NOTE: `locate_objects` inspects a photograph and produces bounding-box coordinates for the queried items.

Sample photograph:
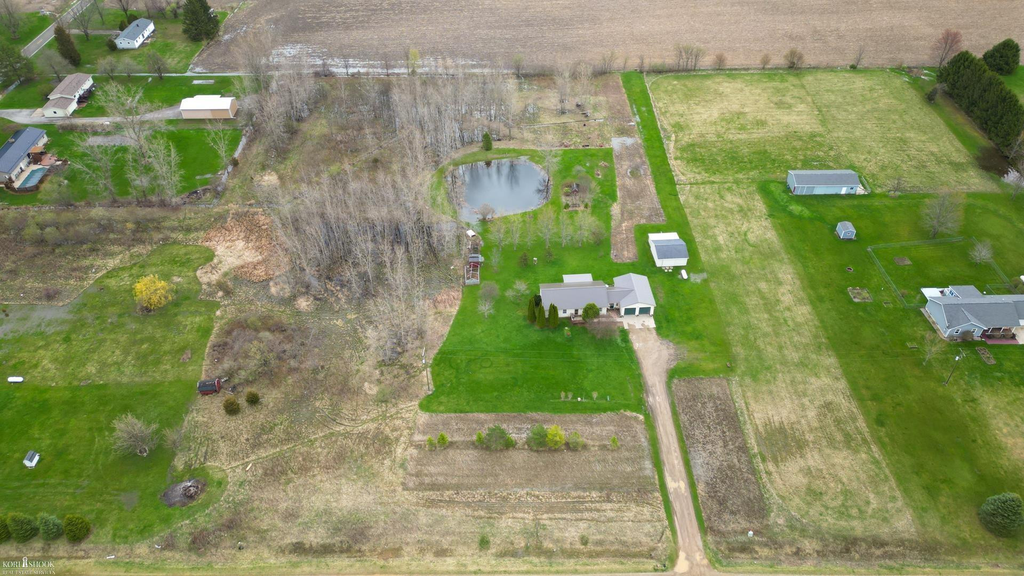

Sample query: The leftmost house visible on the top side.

[0,126,51,182]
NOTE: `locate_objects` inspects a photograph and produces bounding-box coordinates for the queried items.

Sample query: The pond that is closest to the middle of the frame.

[450,157,549,222]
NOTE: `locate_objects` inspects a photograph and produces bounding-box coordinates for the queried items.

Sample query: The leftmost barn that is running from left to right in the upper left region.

[179,94,238,119]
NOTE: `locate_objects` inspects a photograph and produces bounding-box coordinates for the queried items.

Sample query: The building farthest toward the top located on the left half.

[116,17,156,49]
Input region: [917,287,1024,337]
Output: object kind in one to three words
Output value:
house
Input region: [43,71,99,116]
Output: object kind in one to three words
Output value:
house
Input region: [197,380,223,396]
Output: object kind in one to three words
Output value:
shed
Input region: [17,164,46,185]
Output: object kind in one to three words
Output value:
swimming pool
